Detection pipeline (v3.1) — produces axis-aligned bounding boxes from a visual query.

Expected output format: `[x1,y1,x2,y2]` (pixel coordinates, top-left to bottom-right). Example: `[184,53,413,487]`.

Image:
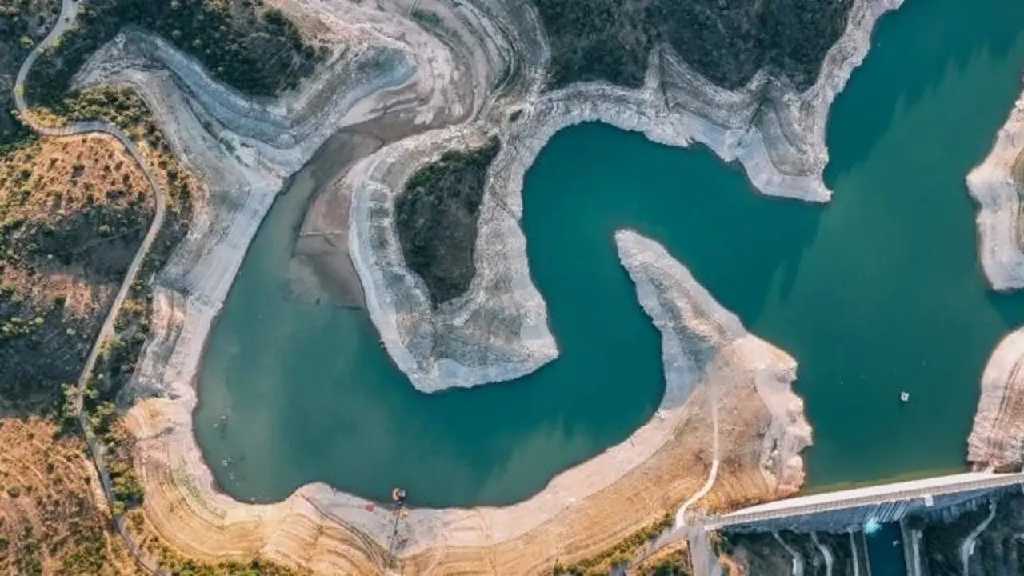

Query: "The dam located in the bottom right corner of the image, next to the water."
[697,473,1024,530]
